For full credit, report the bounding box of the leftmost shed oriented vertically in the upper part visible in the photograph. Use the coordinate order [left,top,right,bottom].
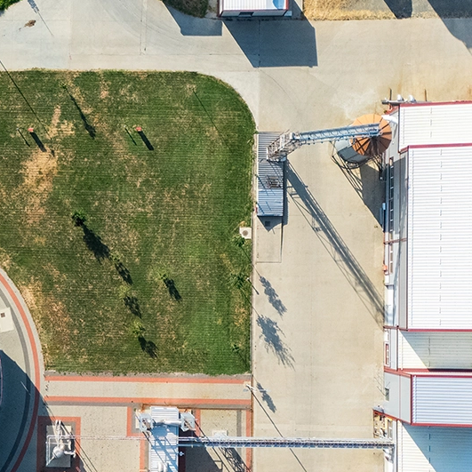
[256,132,283,216]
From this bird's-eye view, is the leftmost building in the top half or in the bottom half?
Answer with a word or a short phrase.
bottom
